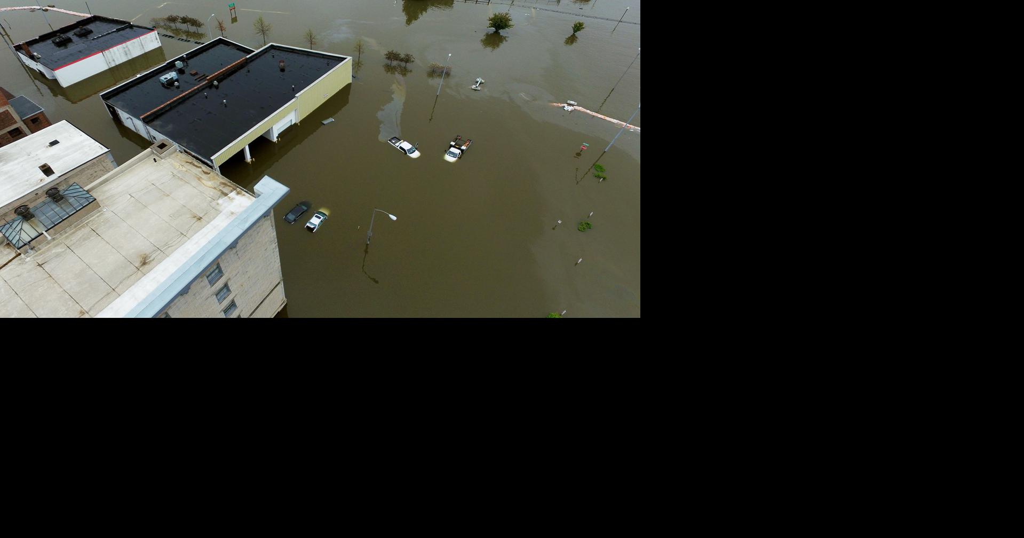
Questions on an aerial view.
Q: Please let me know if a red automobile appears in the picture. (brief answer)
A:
No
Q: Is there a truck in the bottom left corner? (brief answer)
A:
No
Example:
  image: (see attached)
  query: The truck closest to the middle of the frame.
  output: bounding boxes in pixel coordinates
[447,136,474,162]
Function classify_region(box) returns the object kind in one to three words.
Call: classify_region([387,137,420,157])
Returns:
vehicle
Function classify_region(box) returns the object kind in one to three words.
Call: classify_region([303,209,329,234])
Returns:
car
